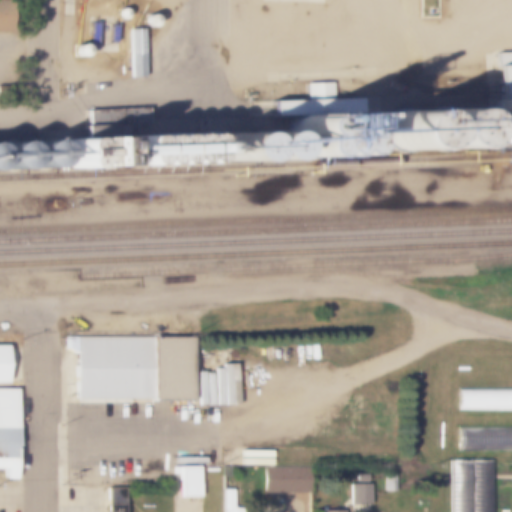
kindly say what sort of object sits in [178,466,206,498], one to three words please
building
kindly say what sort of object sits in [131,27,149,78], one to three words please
shed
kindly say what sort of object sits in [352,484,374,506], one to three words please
house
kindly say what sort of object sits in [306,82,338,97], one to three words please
building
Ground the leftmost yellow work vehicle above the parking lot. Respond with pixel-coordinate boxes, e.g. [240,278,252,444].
[74,316,90,330]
